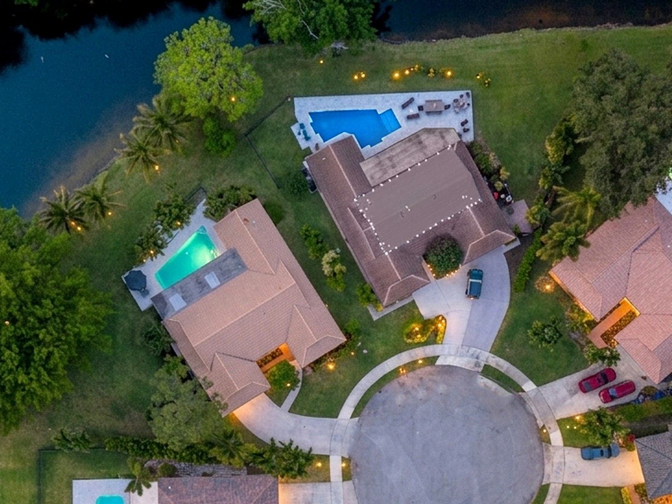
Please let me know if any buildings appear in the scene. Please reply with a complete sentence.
Yes, the photo shows a building.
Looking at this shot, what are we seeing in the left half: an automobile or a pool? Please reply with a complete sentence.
The feature located in the left half is a pool.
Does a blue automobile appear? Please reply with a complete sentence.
Yes, a blue automobile can be made out from above.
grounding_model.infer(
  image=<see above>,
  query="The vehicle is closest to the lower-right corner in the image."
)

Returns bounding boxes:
[577,444,621,462]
